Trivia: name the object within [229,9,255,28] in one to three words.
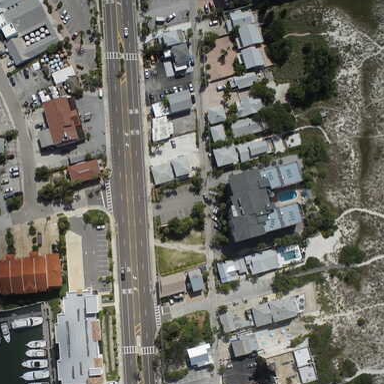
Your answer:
house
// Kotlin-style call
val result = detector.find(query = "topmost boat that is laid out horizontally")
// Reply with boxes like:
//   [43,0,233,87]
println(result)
[11,317,45,330]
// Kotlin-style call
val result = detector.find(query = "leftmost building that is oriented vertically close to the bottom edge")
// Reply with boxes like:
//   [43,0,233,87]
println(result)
[55,288,102,384]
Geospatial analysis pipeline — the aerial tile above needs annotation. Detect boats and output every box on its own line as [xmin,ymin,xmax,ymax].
[21,360,48,368]
[17,368,50,380]
[0,322,10,343]
[26,340,47,349]
[24,349,47,357]
[11,317,45,330]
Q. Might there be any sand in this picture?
Yes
